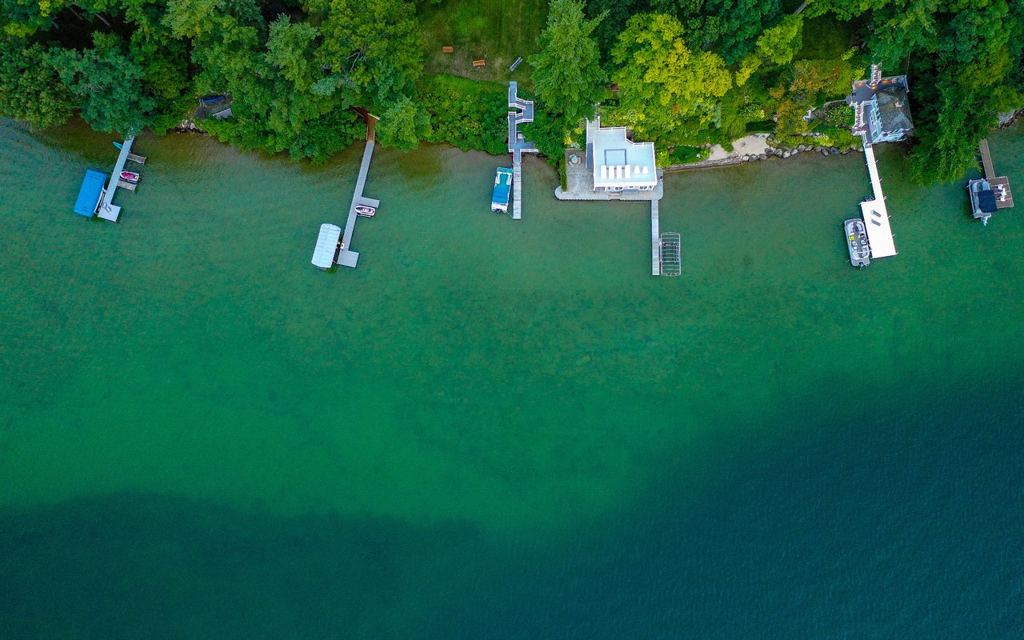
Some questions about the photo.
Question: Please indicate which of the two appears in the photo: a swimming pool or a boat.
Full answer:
Visible in the photo is a boat.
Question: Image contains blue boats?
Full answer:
Yes, looking at the shot, I can spot a blue boat.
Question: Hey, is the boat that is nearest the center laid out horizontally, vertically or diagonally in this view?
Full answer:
The boat that is nearest the center is oriented vertically.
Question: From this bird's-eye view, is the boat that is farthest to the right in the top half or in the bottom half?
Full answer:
The top half of the photo is where the boat that is farthest to the right is.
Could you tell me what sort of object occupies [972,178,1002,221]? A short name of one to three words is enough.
boat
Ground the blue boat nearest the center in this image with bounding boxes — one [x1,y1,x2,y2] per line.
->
[492,166,513,215]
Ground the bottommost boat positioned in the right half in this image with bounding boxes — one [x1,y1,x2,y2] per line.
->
[846,217,874,270]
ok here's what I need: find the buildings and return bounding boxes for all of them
[870,87,915,142]
[587,115,658,196]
